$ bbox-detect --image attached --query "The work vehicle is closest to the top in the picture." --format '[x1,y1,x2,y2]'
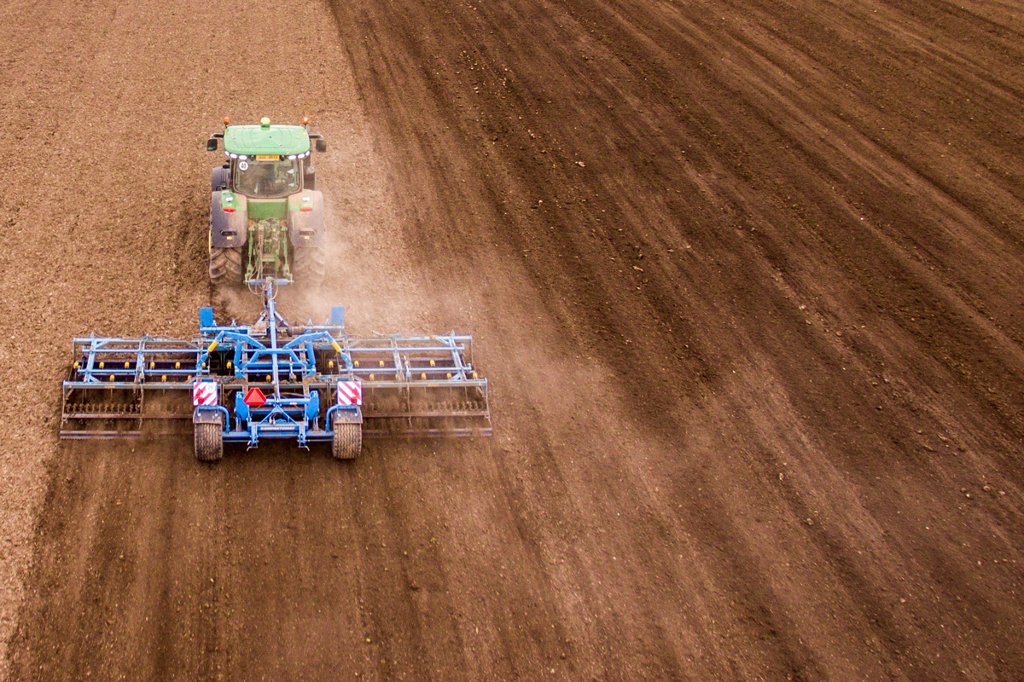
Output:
[208,114,324,294]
